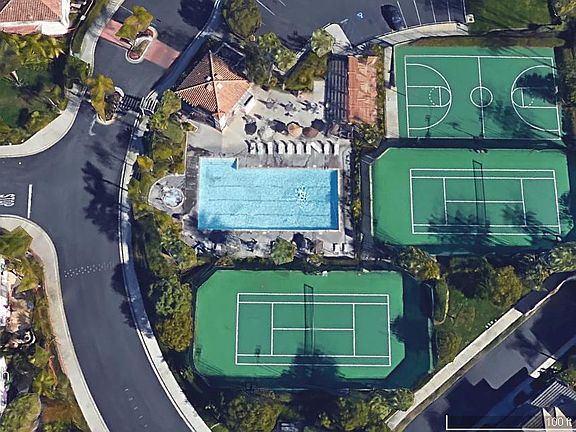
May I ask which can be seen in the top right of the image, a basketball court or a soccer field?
basketball court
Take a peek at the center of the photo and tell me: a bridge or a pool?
pool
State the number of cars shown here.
1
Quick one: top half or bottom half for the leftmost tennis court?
bottom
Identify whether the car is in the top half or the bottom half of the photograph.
top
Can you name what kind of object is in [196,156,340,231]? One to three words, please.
swimming pool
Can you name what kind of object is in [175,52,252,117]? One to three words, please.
building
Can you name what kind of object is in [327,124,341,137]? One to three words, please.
umbrella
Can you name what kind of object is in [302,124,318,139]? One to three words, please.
umbrella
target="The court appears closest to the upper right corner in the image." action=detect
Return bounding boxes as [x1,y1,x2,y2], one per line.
[396,48,566,142]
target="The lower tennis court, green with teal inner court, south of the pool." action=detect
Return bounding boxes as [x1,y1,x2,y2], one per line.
[195,271,431,390]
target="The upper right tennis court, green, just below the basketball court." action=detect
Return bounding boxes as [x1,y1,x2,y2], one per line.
[372,149,576,256]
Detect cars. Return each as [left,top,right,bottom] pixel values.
[382,3,402,28]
